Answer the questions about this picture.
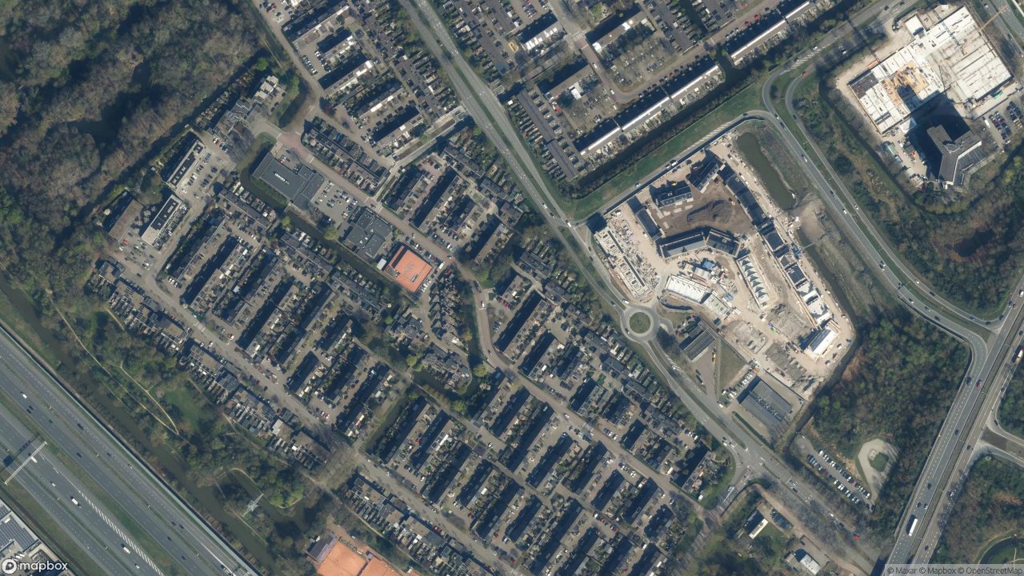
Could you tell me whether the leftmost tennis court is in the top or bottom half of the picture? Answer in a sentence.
Seen from above, the leftmost tennis court lies in the bottom half of the view.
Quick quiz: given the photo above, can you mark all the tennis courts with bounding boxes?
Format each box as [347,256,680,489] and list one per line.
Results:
[362,557,401,576]
[312,542,366,576]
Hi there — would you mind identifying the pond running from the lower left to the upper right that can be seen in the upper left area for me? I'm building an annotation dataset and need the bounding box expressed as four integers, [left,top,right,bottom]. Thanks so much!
[76,60,162,148]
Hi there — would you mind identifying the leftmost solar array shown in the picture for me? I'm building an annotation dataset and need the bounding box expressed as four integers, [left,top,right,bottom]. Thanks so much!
[152,199,178,230]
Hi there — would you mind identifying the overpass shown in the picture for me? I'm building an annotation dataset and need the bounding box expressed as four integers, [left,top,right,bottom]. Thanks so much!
[876,270,1024,576]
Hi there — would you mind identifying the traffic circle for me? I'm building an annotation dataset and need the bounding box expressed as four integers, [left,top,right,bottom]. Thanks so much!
[620,303,660,343]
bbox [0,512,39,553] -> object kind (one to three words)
building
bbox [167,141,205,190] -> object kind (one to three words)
building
